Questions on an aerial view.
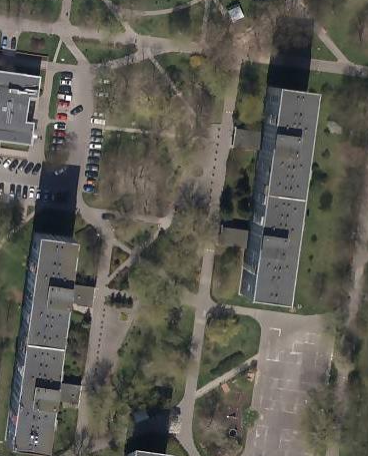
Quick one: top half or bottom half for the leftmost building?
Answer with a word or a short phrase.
top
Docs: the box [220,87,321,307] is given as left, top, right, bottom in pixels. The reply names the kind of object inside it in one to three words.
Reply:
building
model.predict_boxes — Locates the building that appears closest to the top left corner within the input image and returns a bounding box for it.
[0,71,41,150]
